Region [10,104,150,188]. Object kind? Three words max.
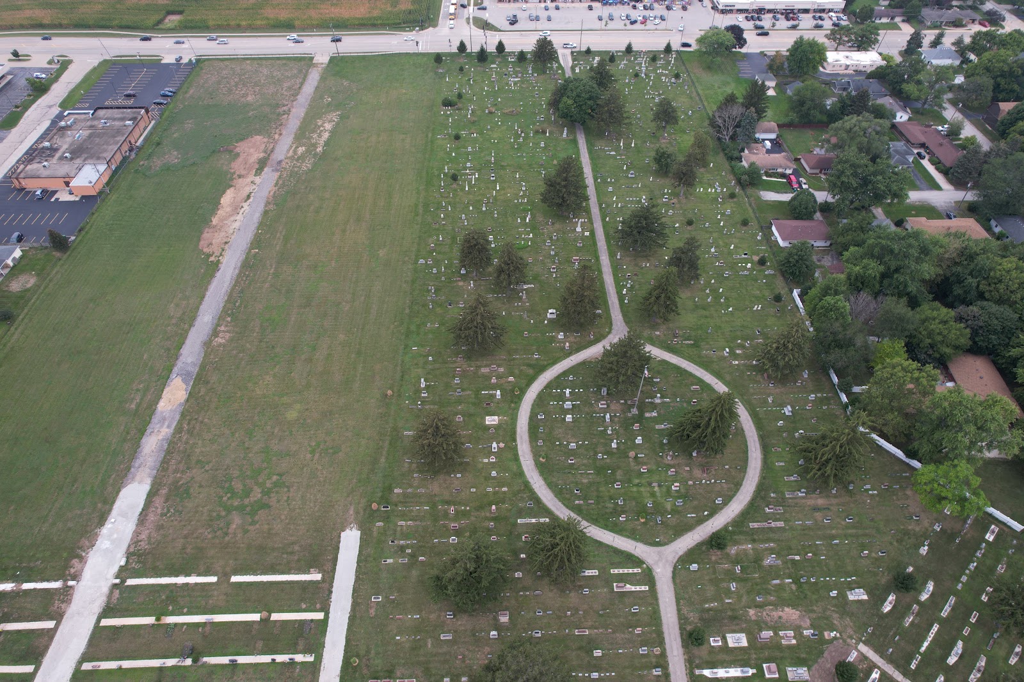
building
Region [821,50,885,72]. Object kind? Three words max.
building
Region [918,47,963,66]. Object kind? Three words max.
house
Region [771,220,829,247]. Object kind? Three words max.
house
